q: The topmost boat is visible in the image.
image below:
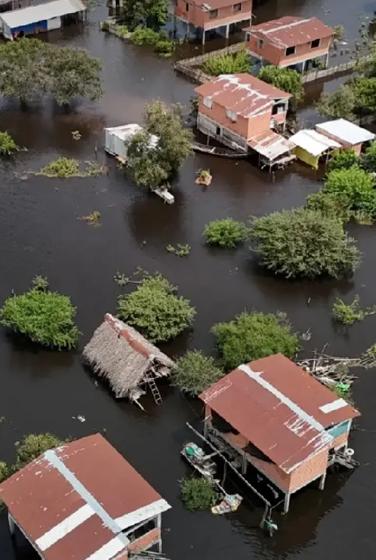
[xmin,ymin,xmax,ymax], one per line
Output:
[191,141,249,159]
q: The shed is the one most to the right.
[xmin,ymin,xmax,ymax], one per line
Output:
[316,119,376,159]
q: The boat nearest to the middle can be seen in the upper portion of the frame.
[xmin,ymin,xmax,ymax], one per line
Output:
[156,187,175,205]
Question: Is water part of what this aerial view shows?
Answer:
Yes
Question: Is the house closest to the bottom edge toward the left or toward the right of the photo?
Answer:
left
